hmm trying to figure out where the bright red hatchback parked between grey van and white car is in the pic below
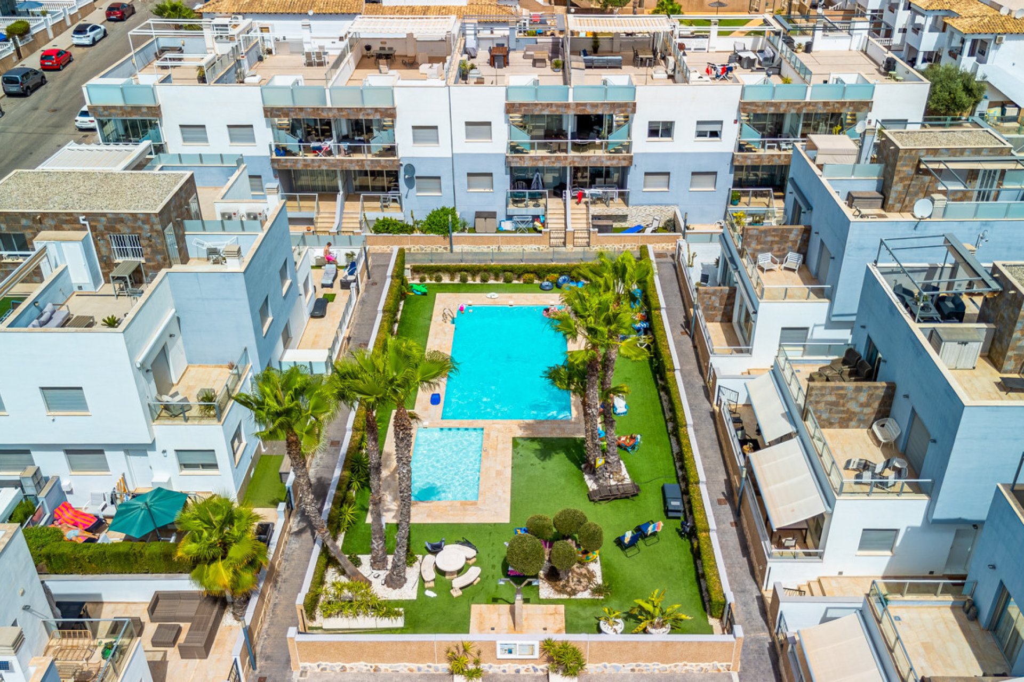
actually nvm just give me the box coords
[38,45,76,68]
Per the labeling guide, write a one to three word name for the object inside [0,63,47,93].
car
